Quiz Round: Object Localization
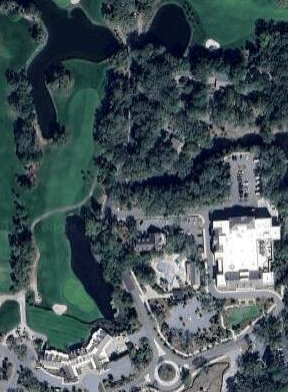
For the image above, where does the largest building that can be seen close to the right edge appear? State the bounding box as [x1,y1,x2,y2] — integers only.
[213,218,281,293]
